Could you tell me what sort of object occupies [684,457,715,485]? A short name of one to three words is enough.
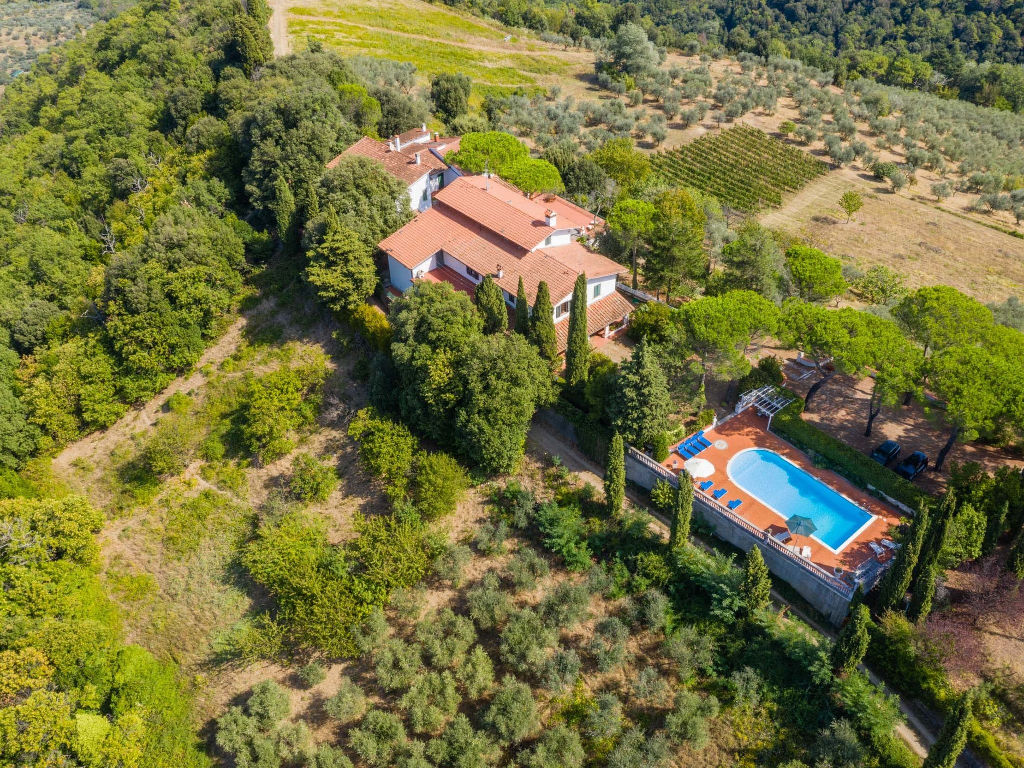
umbrella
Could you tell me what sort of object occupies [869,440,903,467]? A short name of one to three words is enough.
car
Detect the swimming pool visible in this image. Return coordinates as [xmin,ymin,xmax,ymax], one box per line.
[727,448,878,554]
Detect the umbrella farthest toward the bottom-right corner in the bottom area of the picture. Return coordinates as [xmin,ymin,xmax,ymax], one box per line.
[783,512,817,554]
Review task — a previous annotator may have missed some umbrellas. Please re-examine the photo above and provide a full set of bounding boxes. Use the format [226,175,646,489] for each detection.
[684,457,715,485]
[783,512,817,554]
